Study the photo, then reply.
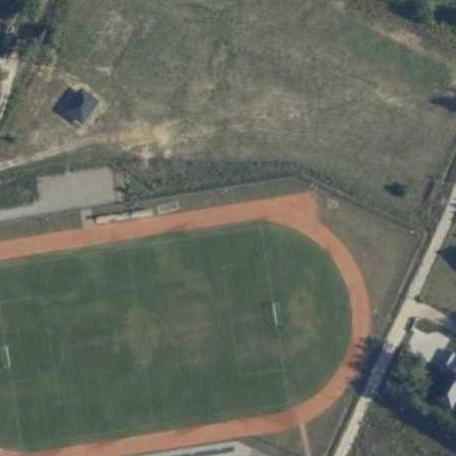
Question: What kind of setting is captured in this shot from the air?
sports ground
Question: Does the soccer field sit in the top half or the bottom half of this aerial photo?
bottom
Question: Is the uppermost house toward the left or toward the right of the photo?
left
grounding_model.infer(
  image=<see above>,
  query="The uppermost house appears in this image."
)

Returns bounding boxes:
[65,89,97,122]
